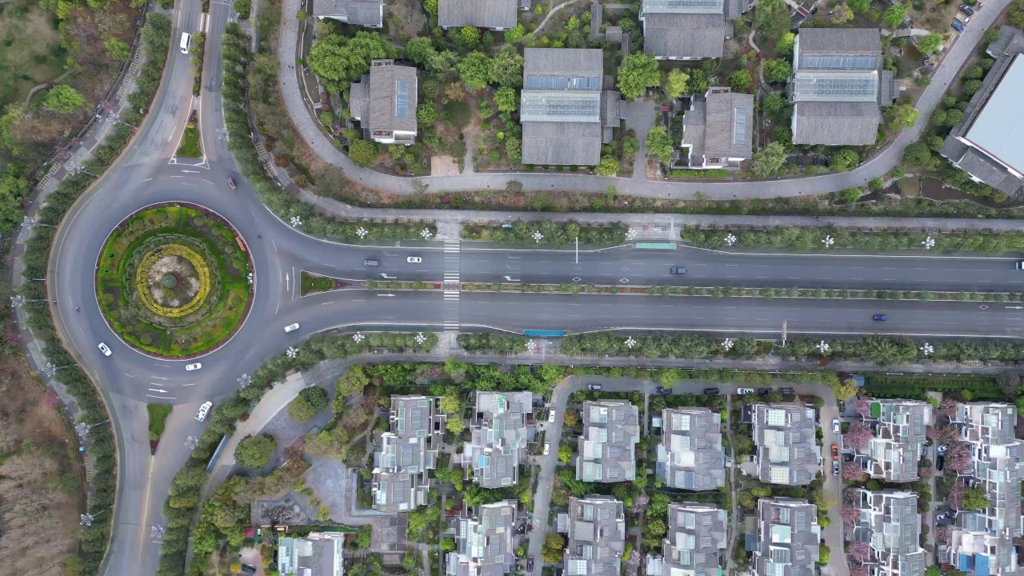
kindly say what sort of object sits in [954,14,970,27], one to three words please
vehicle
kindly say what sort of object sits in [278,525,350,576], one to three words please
house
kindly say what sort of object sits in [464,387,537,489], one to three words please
house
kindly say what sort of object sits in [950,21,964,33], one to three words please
vehicle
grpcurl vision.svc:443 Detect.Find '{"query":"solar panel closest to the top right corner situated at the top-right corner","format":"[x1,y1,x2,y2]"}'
[803,54,880,67]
